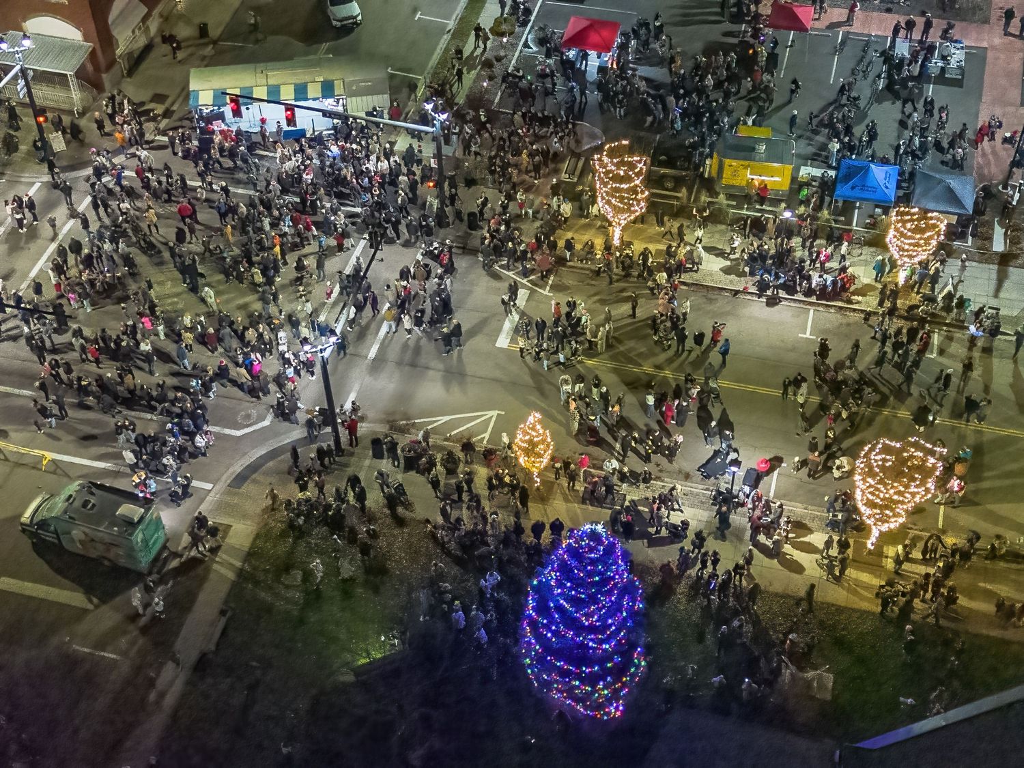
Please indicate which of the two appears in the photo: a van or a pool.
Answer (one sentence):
Visible in the photo is a van.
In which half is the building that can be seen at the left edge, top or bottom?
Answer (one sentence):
It is in the top half that the building that can be seen at the left edge appears.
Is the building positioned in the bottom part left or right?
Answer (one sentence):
The building positioned in the bottom part appears in the right half of the scene.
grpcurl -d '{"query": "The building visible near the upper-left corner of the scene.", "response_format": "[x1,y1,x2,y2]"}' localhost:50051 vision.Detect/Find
[0,0,186,117]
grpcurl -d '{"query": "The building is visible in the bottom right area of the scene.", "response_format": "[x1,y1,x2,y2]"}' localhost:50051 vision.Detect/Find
[831,686,1024,768]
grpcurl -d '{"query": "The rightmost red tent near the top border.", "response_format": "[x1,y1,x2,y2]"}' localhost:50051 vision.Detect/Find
[766,0,814,61]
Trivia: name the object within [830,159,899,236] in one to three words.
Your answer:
tent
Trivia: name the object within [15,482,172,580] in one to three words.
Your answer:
van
